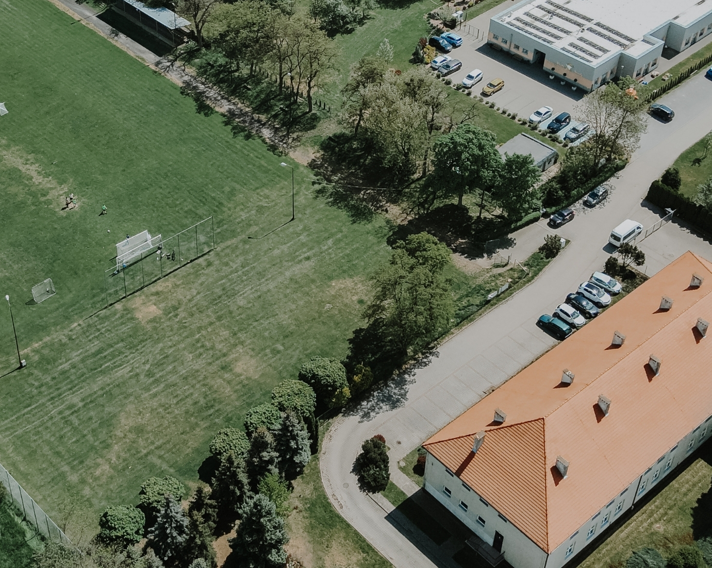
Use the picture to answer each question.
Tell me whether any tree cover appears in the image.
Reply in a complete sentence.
Yes, some tree cover is visible.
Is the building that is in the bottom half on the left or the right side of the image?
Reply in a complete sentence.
The building that is in the bottom half is on the right side of the image.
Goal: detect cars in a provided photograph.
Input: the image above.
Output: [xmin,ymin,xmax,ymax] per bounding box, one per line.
[480,76,507,97]
[546,204,580,227]
[460,68,485,87]
[536,315,574,338]
[646,103,679,122]
[441,31,466,48]
[581,183,612,206]
[546,110,573,132]
[436,57,464,77]
[551,302,587,327]
[427,33,455,52]
[577,279,613,307]
[527,106,556,125]
[587,270,625,295]
[563,122,590,142]
[564,293,601,318]
[427,54,455,69]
